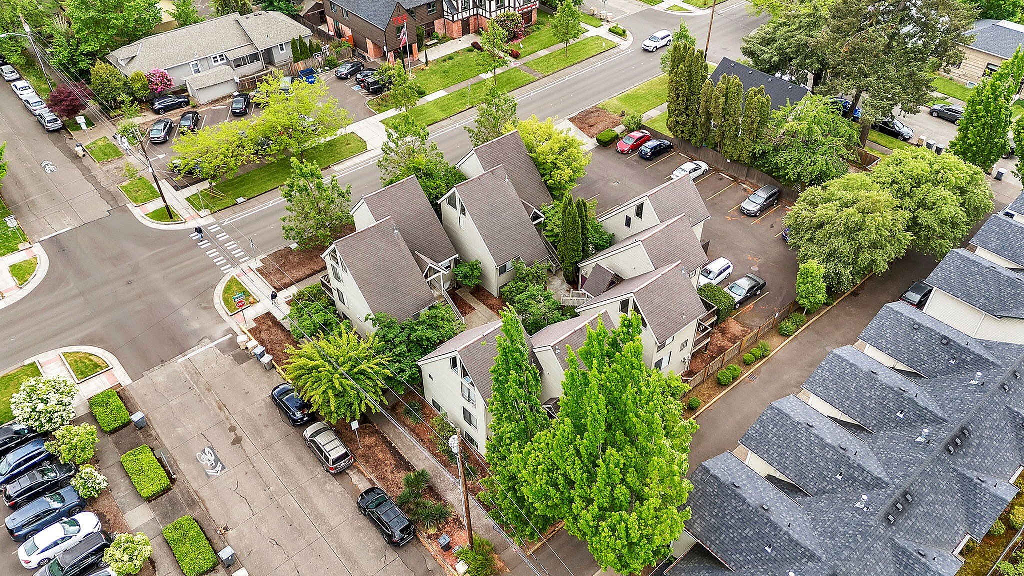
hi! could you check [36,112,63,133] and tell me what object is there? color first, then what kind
gray car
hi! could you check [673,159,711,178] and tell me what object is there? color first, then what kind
white car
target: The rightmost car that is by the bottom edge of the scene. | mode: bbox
[357,488,416,549]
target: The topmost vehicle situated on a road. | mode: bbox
[642,29,672,52]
